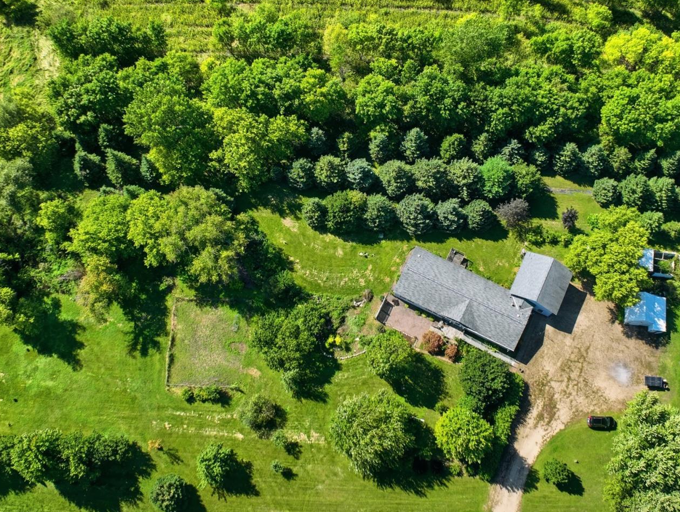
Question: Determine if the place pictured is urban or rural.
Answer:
rural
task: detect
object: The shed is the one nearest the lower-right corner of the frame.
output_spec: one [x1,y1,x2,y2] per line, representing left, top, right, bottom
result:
[619,291,666,336]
